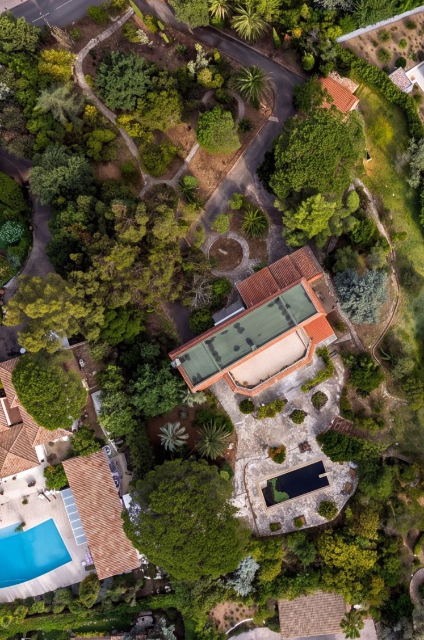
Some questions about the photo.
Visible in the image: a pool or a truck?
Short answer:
pool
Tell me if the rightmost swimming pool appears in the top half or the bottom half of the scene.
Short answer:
bottom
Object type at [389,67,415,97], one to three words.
shed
